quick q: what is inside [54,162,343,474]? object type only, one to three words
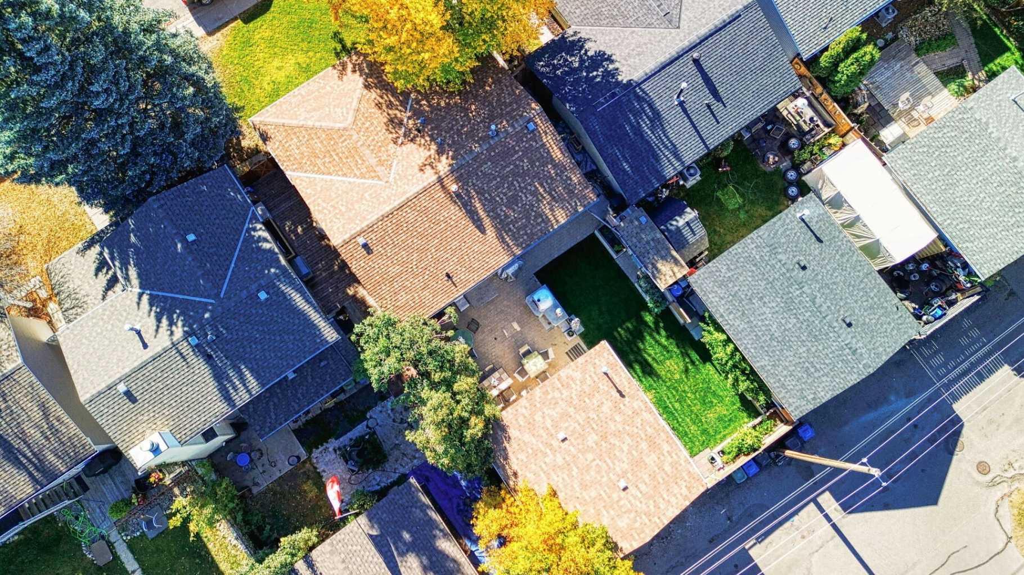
house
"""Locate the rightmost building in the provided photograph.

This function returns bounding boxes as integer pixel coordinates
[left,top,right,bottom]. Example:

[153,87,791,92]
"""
[881,64,1024,282]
